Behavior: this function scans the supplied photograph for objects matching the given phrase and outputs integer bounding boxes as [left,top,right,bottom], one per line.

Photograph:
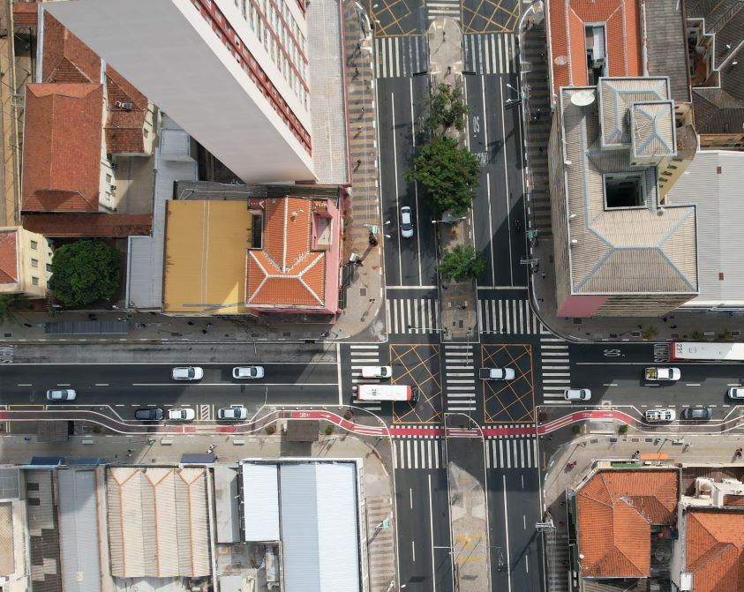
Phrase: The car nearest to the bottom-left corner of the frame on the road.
[47,387,78,401]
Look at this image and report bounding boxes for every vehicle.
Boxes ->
[683,407,712,420]
[644,367,679,381]
[167,407,196,420]
[645,407,675,422]
[399,206,413,238]
[233,366,265,379]
[135,407,165,420]
[726,387,744,399]
[563,387,591,401]
[667,342,744,361]
[358,382,420,403]
[218,407,249,420]
[47,387,78,401]
[172,366,205,380]
[362,365,393,379]
[479,366,515,380]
